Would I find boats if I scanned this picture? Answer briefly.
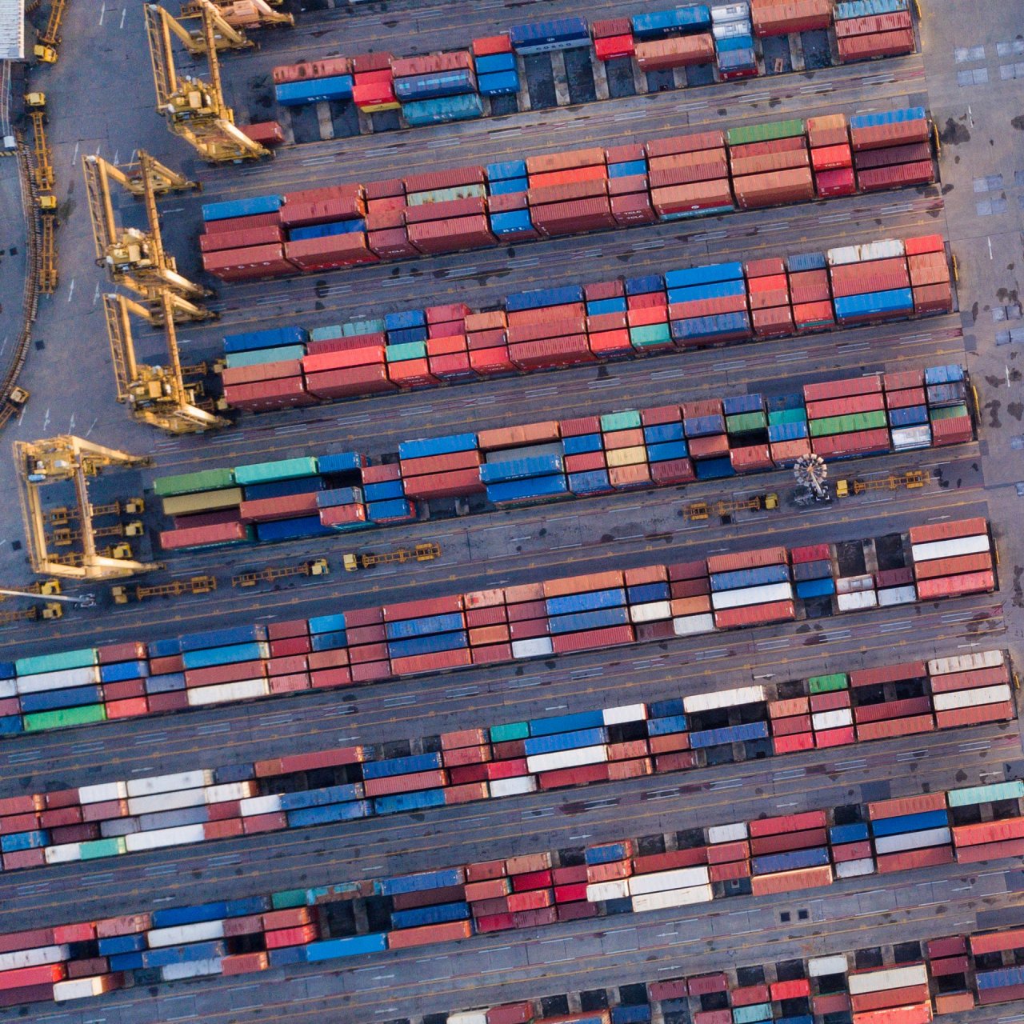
No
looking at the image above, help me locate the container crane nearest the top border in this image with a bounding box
[198,0,294,33]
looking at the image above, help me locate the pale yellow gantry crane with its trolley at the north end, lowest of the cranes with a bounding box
[17,442,166,580]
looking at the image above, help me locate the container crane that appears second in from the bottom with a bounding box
[102,288,241,438]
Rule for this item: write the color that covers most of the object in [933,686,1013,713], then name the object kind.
white shipping container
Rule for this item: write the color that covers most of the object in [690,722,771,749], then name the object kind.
blue shipping container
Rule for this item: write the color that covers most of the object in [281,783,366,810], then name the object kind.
blue shipping container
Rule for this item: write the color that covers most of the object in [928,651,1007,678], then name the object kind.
white shipping container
